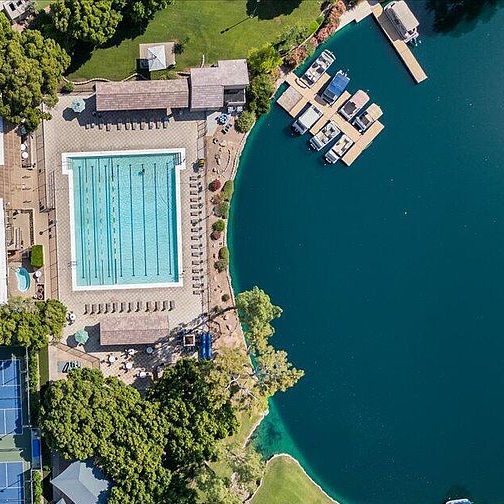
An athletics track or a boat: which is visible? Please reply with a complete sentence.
Visible in the photo is a boat.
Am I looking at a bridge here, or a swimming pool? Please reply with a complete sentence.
Looking from above, you can make out a swimming pool.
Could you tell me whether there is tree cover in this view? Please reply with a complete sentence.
Yes, tree cover can be seen from above here.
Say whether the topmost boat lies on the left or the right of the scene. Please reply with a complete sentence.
The topmost boat is on the right side of the image.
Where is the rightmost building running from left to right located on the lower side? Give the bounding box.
[99,316,170,345]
